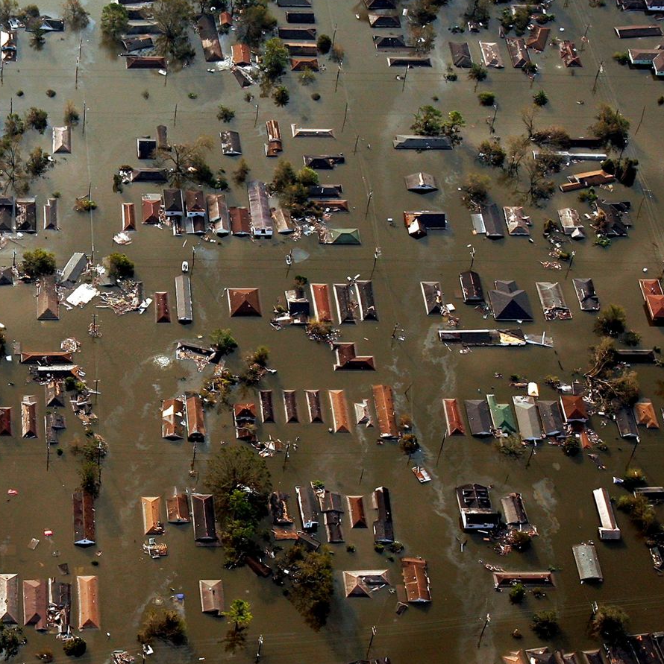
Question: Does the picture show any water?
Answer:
Yes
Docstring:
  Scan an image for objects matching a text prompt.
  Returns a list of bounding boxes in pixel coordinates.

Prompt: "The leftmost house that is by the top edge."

[1,29,17,62]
